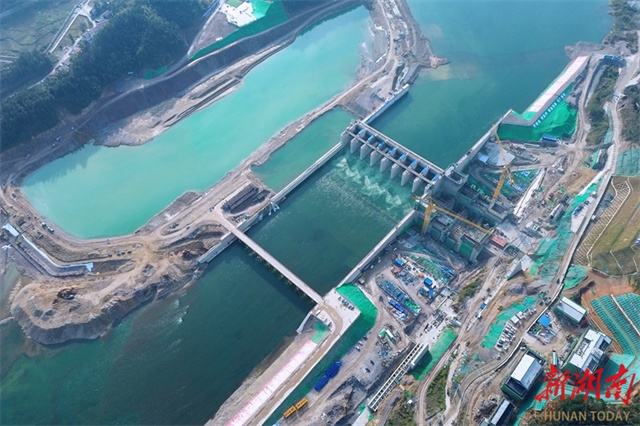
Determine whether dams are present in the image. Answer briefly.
Yes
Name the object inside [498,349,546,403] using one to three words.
building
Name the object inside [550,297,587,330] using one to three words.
building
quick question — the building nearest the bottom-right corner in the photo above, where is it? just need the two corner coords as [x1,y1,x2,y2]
[561,329,612,379]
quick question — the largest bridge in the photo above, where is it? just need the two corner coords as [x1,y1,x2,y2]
[222,212,326,307]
